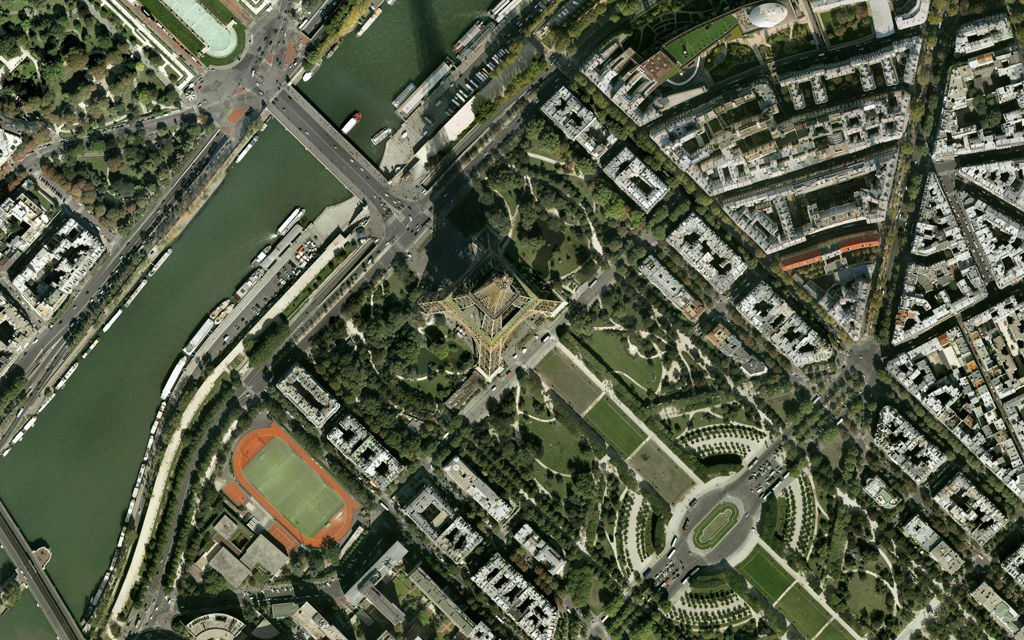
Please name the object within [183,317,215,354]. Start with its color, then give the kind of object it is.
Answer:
white boat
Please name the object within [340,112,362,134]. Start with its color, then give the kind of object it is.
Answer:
white boat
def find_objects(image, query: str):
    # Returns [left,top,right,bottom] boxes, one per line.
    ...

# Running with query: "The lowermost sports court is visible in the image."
[267,521,301,556]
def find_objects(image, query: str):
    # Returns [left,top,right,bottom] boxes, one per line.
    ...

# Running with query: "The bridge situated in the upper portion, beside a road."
[264,82,394,208]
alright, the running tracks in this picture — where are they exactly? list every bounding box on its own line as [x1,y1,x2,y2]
[233,422,361,548]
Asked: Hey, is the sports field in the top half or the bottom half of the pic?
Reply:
bottom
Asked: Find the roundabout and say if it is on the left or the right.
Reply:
right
